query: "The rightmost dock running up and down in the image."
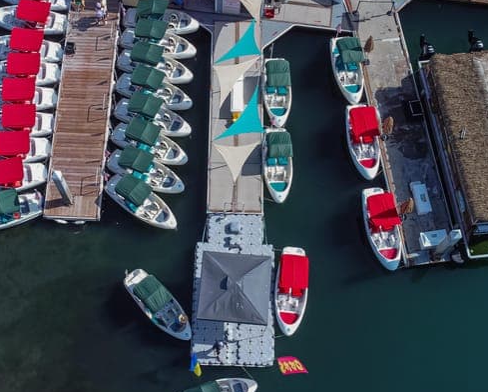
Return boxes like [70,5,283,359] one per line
[352,0,466,271]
